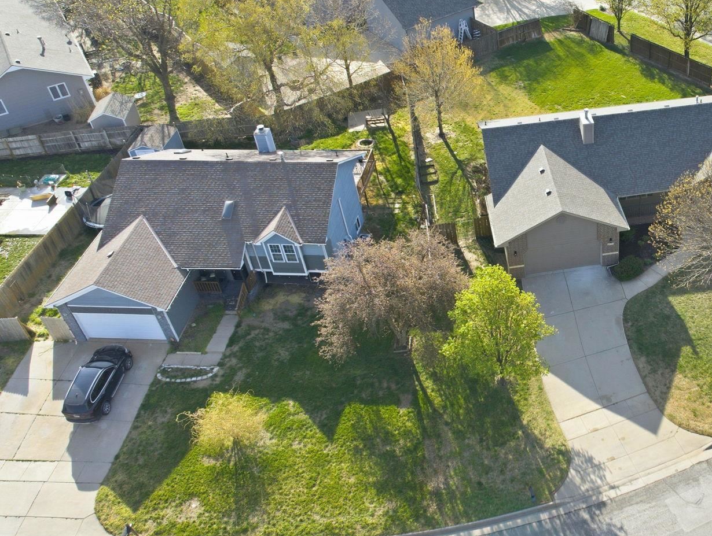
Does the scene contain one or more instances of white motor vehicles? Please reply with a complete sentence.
No, there isn't any white motor vehicle down there.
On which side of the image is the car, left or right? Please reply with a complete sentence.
It is on the left.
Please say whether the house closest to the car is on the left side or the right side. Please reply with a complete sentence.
The house closest to the car is on the left side of the image.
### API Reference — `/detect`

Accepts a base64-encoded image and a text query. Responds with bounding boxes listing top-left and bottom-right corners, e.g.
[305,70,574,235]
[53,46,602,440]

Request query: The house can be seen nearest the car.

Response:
[47,122,389,342]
